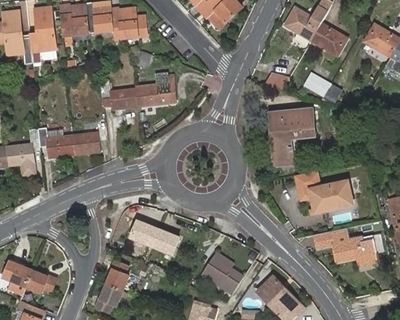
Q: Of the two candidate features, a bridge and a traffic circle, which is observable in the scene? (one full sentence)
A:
There is a traffic circle in the scene.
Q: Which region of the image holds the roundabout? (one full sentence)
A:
The roundabout is in the center part of the image.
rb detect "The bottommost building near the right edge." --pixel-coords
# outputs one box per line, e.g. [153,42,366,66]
[314,228,385,272]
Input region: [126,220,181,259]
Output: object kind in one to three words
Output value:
house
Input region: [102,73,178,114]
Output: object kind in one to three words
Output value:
house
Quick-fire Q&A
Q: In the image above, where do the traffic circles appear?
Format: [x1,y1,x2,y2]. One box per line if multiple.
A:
[159,125,245,210]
